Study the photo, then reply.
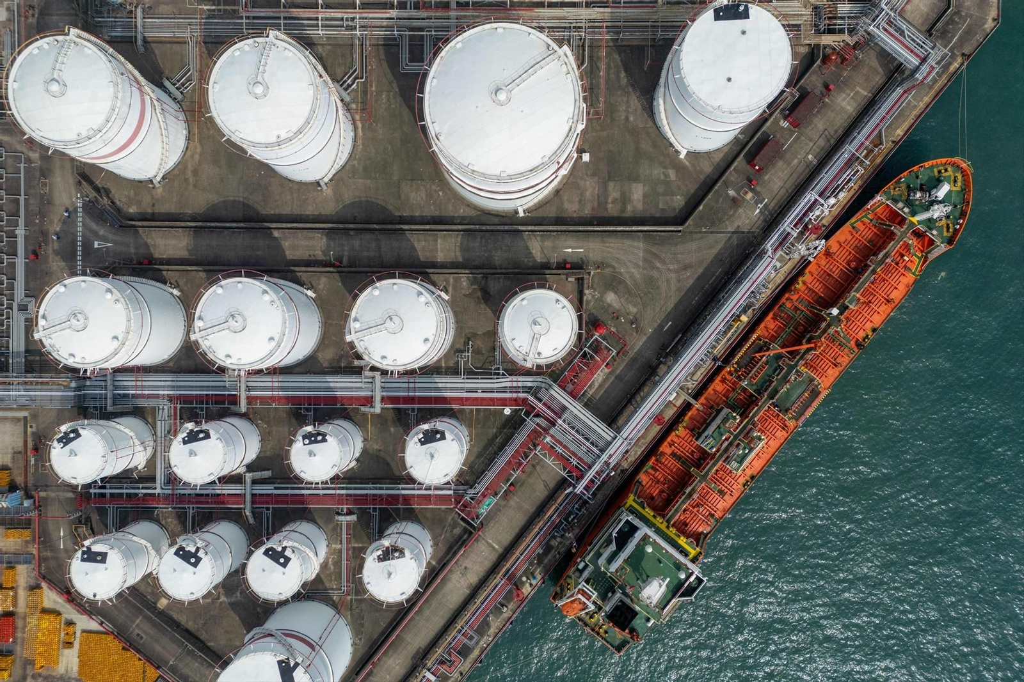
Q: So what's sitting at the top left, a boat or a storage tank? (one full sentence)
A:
The one visible at the top left is a storage tank.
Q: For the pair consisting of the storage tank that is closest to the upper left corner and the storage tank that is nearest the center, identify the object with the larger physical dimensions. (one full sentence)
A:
Compared with the storage tank that is nearest the center, the storage tank that is closest to the upper left corner is the bigger one.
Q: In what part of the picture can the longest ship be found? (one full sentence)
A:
The longest ship is located in the right region of the scene.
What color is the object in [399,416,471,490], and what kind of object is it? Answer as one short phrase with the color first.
white storage tank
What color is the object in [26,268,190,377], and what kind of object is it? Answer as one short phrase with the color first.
white storage tank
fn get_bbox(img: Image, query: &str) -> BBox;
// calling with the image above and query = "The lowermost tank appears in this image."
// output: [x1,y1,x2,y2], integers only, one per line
[211,599,354,682]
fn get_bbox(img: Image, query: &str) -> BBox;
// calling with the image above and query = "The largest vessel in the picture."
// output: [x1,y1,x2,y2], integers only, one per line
[546,160,977,653]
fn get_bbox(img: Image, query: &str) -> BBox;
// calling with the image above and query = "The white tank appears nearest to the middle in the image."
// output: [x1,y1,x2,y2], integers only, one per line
[496,285,583,377]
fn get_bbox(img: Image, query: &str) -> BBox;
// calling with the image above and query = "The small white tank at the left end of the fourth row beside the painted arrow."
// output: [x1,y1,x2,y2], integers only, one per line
[65,514,172,605]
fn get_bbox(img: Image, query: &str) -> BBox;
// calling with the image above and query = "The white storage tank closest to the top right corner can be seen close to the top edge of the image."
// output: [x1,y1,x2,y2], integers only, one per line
[653,0,798,157]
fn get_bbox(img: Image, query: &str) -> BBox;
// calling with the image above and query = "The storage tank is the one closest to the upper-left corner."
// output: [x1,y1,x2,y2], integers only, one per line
[3,20,193,186]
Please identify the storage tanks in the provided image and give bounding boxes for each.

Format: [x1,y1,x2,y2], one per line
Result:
[45,414,160,490]
[165,415,261,489]
[340,271,455,378]
[184,270,324,378]
[65,514,172,605]
[204,24,356,186]
[399,416,471,490]
[418,17,587,213]
[358,516,434,607]
[26,268,190,377]
[590,323,628,356]
[155,514,251,605]
[496,285,583,377]
[3,20,193,186]
[242,515,330,606]
[284,418,365,489]
[211,599,354,682]
[653,0,798,157]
